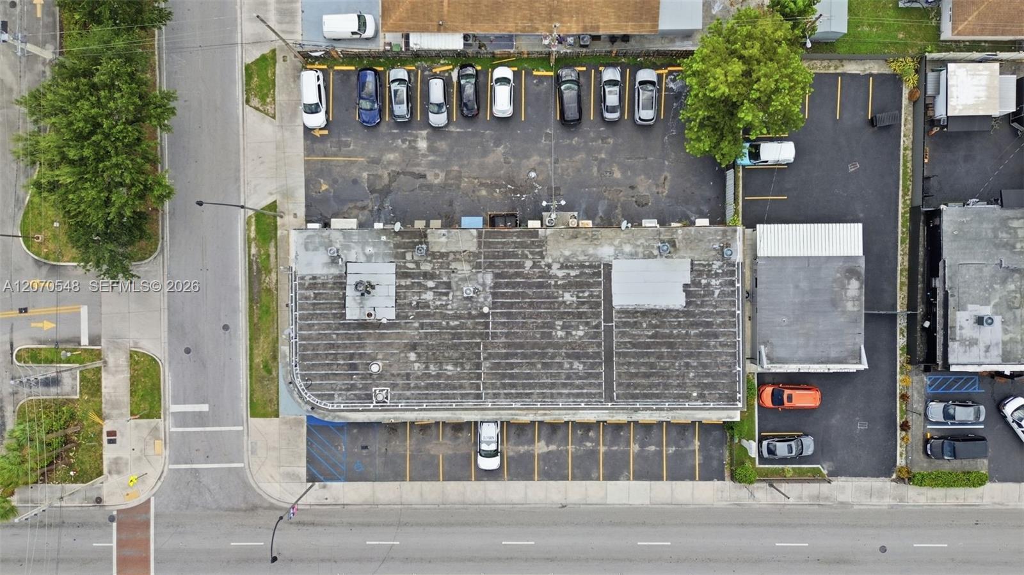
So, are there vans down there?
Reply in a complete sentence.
Yes, a van can be made out from above.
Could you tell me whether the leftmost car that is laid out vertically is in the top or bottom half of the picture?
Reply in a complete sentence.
You can find the leftmost car that is laid out vertically in the top half.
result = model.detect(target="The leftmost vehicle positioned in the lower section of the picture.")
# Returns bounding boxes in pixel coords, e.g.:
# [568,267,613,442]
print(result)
[475,421,502,470]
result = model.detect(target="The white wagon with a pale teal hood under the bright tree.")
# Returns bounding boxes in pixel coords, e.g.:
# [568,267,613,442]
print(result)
[735,140,795,166]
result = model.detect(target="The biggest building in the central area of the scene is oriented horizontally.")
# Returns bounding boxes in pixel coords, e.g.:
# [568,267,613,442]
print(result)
[282,217,746,421]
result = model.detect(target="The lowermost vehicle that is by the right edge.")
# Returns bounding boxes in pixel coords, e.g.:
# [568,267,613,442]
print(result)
[924,434,990,462]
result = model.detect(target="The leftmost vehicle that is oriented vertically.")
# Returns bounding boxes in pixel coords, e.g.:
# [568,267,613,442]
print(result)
[300,70,328,130]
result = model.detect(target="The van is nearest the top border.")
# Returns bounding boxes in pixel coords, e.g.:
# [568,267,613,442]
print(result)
[322,11,377,42]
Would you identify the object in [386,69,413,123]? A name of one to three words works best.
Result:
car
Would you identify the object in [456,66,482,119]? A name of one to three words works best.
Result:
car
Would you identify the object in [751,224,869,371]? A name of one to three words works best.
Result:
building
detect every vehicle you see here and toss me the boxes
[757,433,813,460]
[735,140,795,166]
[757,384,822,411]
[475,421,502,470]
[456,66,482,119]
[490,67,516,119]
[300,70,328,130]
[924,434,990,462]
[998,395,1024,447]
[555,69,583,126]
[355,69,382,127]
[386,69,413,123]
[599,68,625,122]
[923,400,986,426]
[425,76,449,128]
[633,69,660,126]
[322,11,377,42]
